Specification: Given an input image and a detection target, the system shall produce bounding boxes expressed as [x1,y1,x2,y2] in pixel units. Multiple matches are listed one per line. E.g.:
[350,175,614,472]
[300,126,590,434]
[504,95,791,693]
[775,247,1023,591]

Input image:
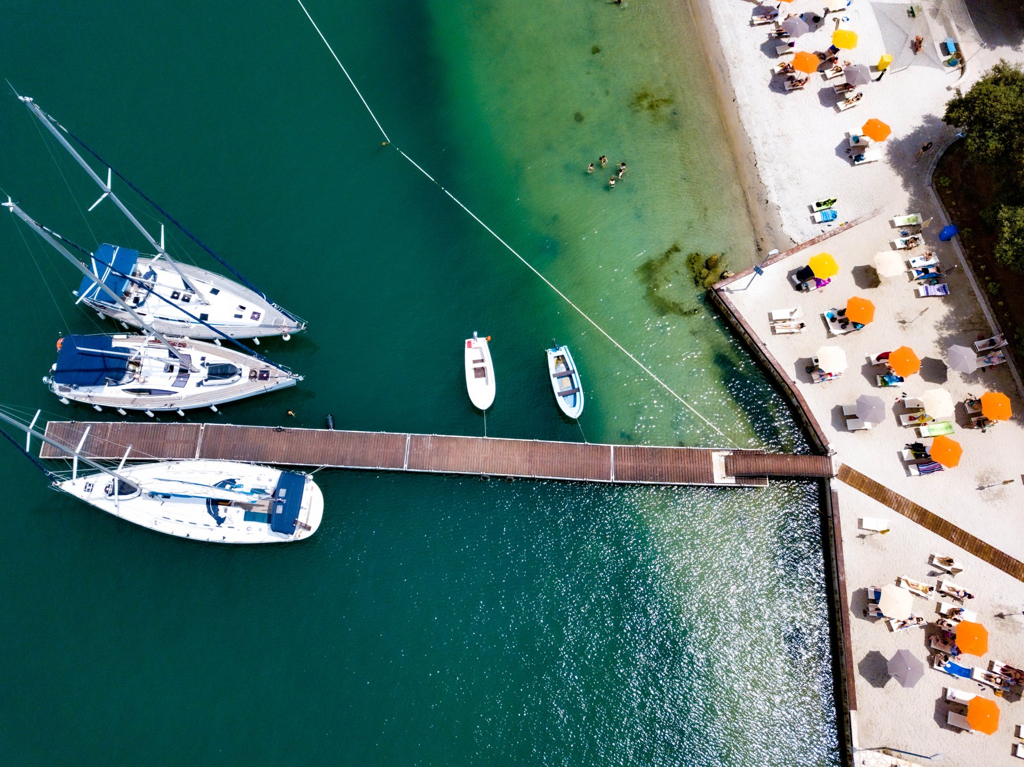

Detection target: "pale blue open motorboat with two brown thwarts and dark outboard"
[547,333,587,443]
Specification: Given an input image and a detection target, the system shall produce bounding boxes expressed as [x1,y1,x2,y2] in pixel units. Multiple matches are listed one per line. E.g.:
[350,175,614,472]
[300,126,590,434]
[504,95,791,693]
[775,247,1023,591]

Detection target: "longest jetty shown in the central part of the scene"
[39,420,770,486]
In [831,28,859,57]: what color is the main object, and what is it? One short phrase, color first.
yellow umbrella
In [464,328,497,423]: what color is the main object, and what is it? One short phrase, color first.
white boat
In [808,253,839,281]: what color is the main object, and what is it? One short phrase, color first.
yellow umbrella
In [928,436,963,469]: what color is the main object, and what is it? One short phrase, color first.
orange umbrella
